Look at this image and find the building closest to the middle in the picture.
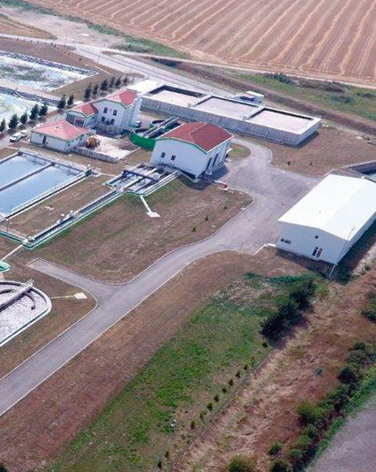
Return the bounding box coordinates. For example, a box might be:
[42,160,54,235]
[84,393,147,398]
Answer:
[152,121,238,178]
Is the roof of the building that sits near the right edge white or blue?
white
